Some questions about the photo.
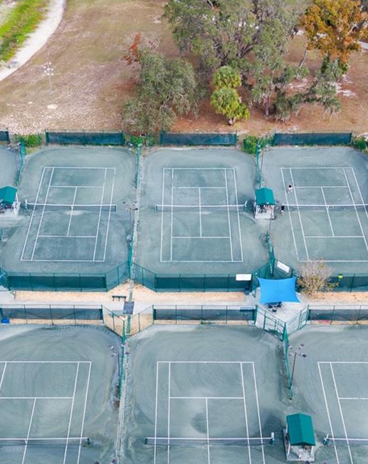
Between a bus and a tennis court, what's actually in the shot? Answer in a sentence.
There is a tennis court in the scene.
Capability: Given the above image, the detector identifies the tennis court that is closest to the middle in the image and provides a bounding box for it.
[136,146,270,289]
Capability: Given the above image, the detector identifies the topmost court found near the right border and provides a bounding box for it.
[255,147,368,286]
